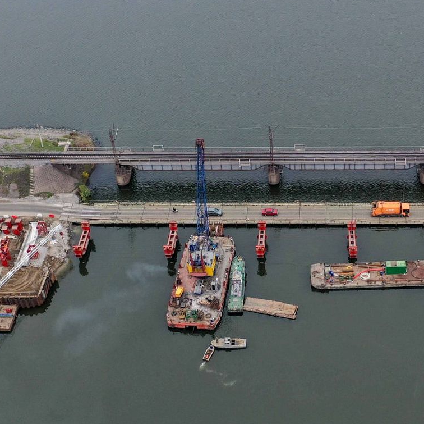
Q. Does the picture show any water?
Yes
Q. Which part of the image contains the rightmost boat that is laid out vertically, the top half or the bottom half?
bottom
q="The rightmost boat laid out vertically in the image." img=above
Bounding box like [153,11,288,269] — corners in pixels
[225,255,245,314]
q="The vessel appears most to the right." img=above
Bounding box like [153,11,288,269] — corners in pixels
[310,259,424,289]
